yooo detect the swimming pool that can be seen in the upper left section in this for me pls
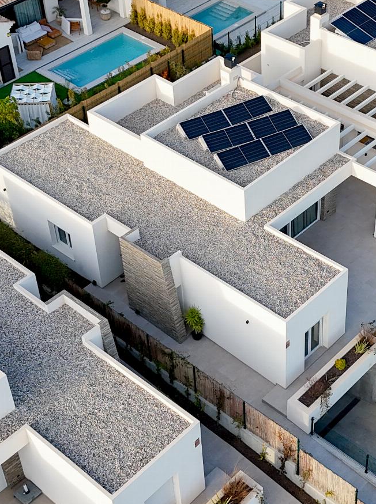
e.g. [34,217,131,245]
[33,26,167,91]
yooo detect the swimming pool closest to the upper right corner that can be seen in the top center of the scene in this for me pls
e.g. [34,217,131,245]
[183,0,265,41]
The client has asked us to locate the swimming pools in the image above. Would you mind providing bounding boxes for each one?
[183,0,265,41]
[33,26,167,91]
